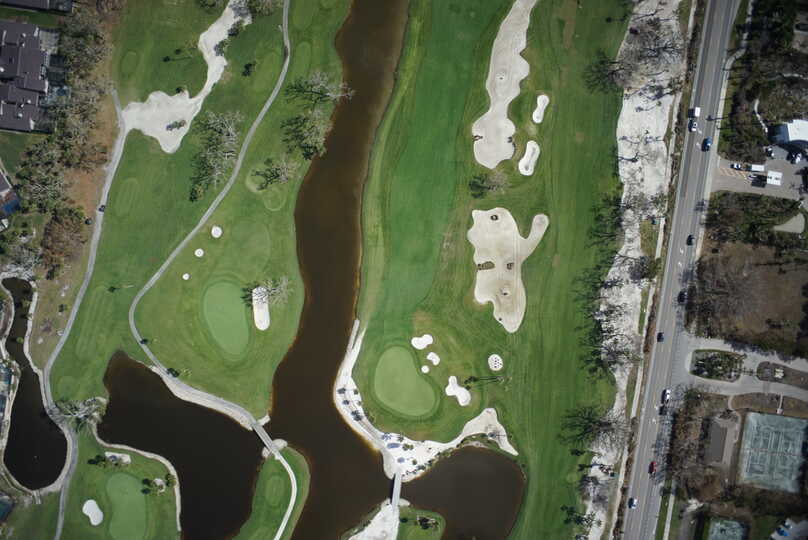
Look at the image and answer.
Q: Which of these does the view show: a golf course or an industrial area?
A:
golf course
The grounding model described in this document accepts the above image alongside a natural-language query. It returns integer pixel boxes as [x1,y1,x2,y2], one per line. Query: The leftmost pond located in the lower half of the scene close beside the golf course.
[2,277,68,489]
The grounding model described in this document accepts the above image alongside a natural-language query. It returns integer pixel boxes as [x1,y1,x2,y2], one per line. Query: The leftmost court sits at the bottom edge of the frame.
[709,519,747,540]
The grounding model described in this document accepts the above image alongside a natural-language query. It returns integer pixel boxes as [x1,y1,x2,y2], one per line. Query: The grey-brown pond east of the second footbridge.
[399,445,525,540]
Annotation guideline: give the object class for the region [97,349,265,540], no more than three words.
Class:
pond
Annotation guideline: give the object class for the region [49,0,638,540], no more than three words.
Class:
golf course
